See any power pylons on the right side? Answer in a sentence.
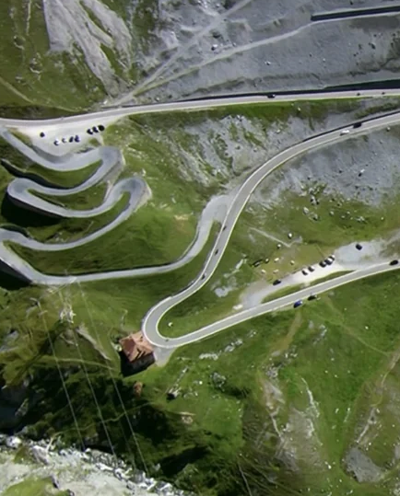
No, the scene shows no power pylon on the right side.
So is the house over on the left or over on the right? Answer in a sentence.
The house is on the left side of the image.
